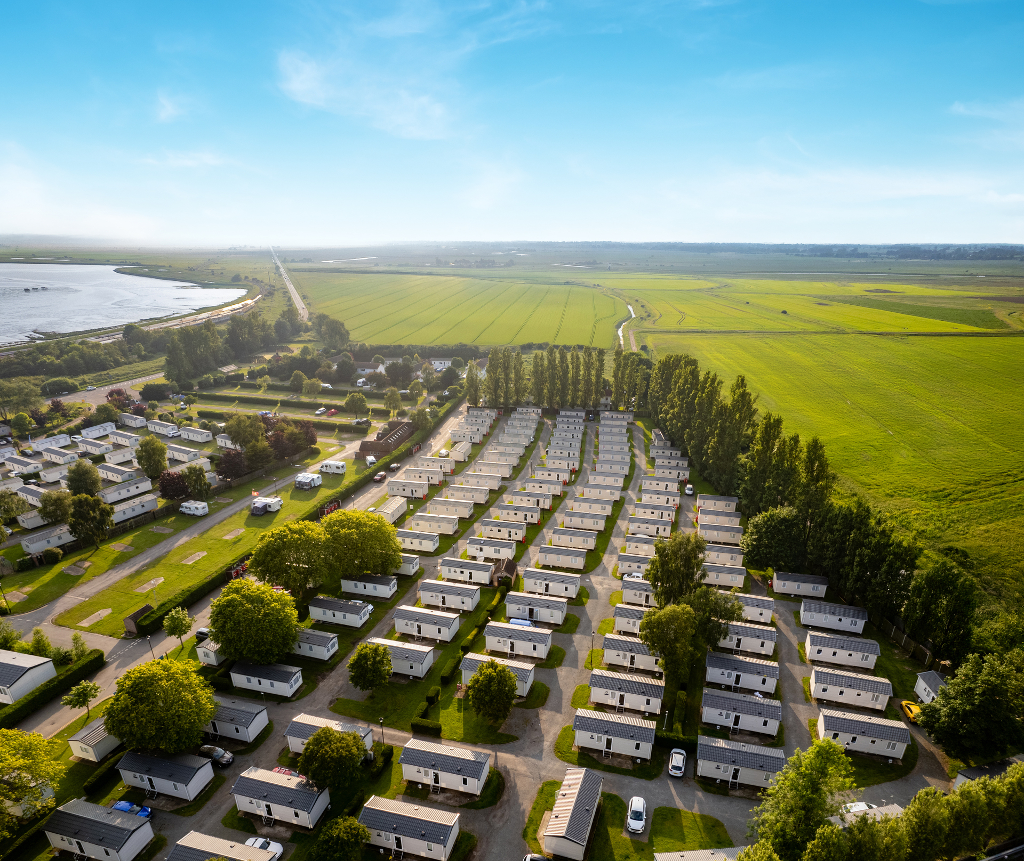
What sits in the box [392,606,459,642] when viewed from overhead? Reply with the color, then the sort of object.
gray camper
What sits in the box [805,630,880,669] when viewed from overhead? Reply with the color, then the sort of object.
gray camper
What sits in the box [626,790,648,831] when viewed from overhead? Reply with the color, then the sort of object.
white car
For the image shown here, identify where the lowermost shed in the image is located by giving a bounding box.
[125,603,161,632]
